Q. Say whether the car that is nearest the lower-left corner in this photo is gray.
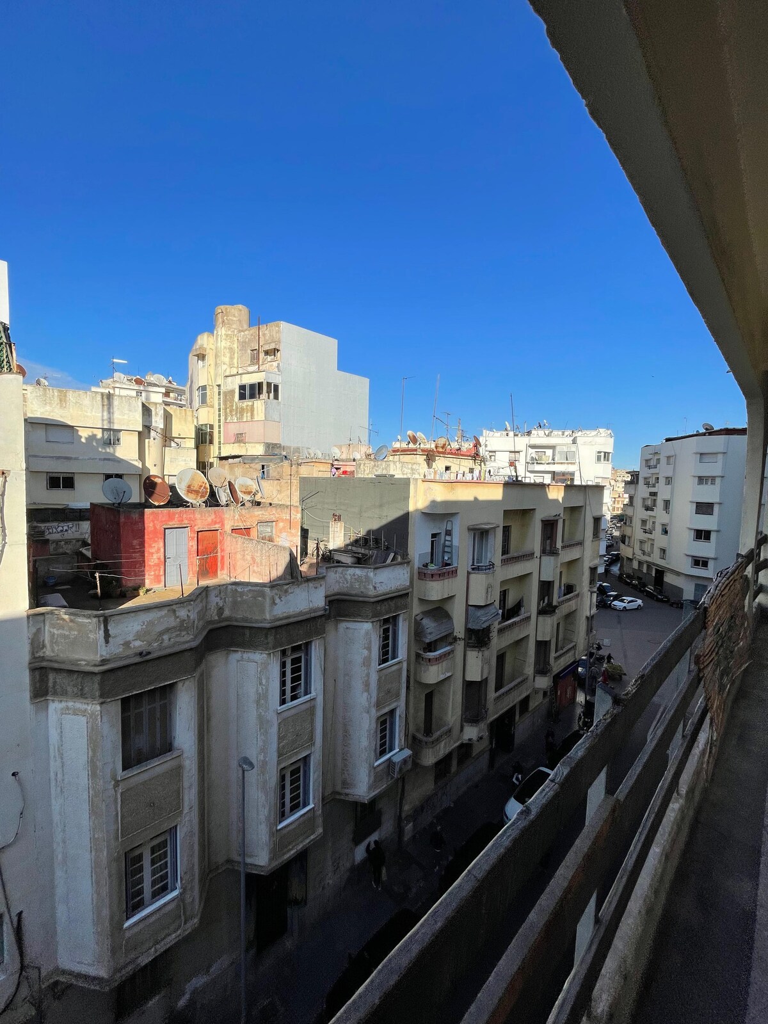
No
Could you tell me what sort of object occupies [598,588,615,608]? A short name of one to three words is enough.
car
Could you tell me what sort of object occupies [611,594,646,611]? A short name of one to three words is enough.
car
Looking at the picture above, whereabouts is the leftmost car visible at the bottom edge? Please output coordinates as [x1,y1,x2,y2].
[274,958,375,1024]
